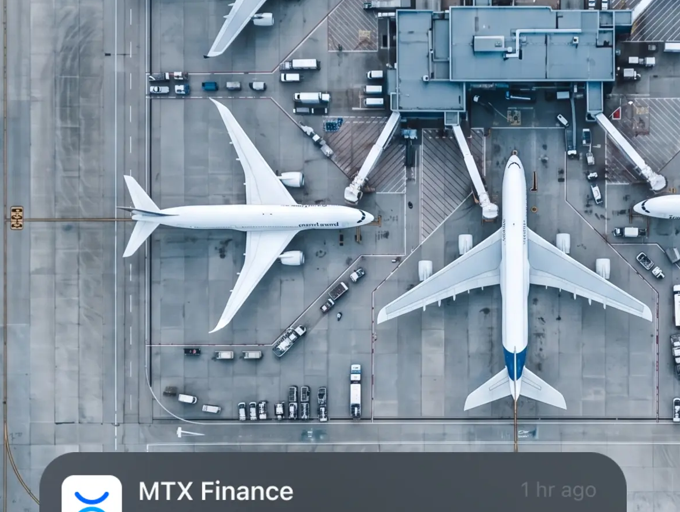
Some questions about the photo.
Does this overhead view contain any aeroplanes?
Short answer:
Yes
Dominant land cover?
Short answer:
paved ground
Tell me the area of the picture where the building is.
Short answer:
top right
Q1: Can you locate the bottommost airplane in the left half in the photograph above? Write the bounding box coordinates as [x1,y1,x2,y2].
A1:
[120,100,373,333]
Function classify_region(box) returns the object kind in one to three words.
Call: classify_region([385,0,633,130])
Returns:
building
